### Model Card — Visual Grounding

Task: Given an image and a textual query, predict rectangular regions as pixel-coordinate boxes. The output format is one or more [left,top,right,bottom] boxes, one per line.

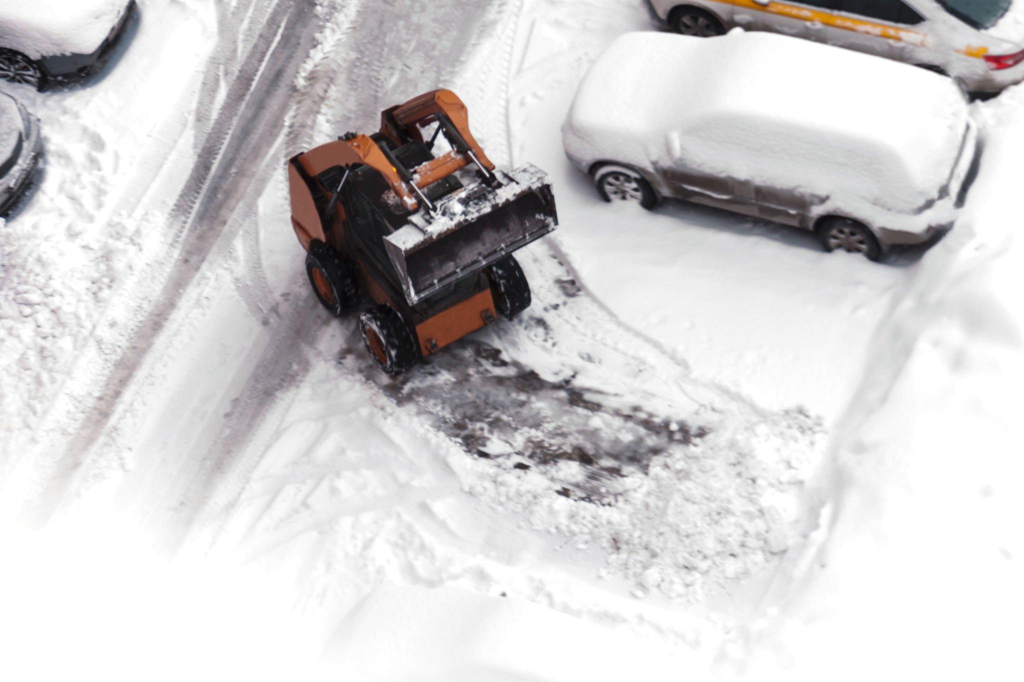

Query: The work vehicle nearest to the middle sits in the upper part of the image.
[288,91,562,374]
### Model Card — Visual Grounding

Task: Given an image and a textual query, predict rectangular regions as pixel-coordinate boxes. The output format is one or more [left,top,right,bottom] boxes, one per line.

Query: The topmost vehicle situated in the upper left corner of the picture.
[0,0,146,94]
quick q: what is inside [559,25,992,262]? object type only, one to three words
car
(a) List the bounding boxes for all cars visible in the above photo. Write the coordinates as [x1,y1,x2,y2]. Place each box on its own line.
[0,91,49,222]
[637,0,1024,95]
[559,25,992,262]
[0,0,146,94]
